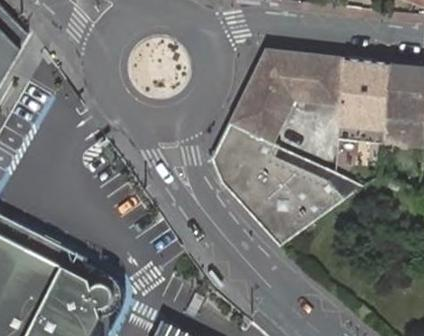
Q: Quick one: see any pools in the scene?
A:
No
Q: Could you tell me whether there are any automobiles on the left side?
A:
Yes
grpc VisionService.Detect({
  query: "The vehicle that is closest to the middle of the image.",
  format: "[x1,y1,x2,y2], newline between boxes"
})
[155,160,174,184]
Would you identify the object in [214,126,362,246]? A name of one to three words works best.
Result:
building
